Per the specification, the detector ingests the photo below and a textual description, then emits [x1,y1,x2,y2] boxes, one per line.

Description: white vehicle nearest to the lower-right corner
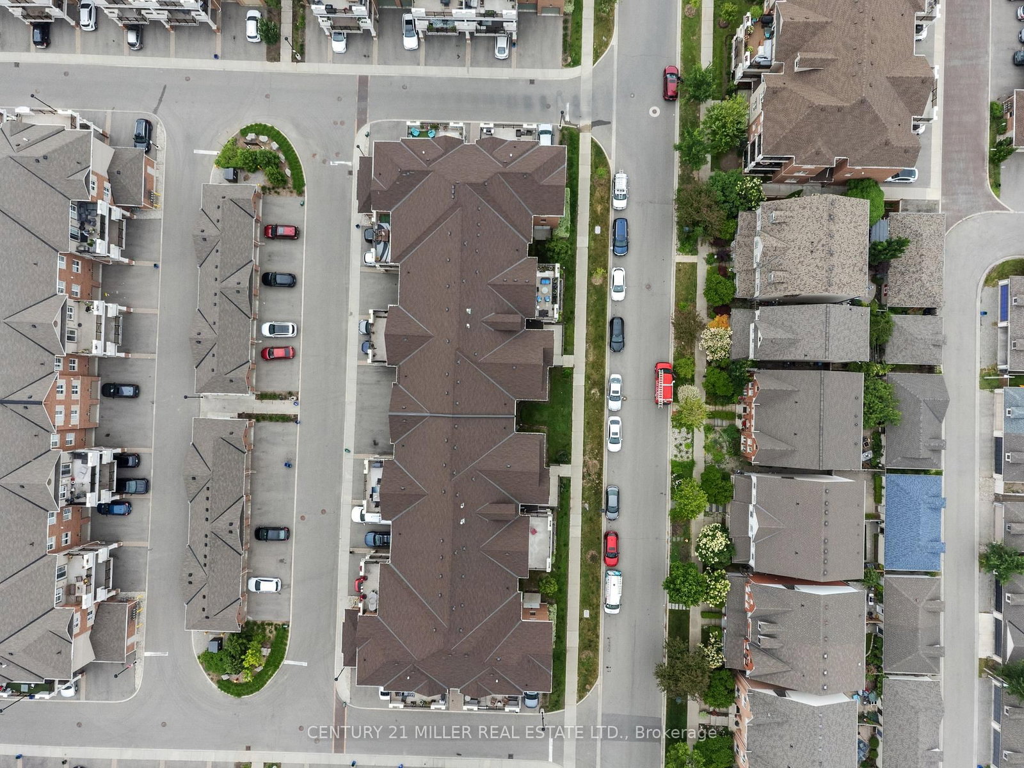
[605,569,624,615]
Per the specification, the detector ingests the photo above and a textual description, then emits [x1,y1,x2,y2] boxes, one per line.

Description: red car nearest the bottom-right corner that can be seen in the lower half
[604,531,621,567]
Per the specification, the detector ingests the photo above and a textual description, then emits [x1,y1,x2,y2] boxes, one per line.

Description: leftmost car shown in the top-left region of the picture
[31,27,53,56]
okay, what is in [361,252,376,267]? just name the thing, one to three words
car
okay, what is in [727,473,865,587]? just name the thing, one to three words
house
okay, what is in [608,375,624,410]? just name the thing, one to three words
car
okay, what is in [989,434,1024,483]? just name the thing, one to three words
building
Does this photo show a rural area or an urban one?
urban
